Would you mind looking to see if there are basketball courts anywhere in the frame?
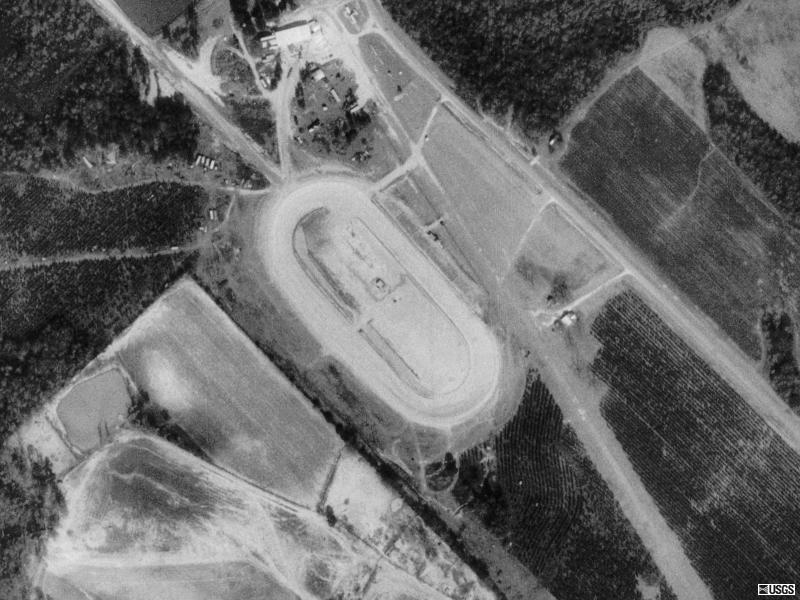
No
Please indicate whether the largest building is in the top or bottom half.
top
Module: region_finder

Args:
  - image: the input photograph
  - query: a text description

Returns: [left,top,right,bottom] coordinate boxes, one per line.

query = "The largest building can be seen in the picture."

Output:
[276,24,312,46]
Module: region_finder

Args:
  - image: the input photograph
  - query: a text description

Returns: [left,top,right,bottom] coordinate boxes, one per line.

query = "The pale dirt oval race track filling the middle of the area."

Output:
[258,177,499,422]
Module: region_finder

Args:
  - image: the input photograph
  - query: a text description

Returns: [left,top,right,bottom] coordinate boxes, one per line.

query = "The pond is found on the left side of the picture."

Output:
[57,368,131,453]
